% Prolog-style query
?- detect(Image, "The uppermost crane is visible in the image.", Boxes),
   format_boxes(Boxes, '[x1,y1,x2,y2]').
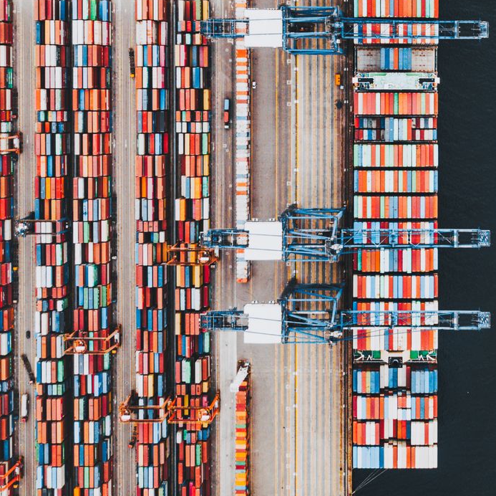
[204,3,490,60]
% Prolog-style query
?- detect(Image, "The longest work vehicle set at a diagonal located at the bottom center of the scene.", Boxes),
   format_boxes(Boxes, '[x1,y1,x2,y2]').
[231,361,253,391]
